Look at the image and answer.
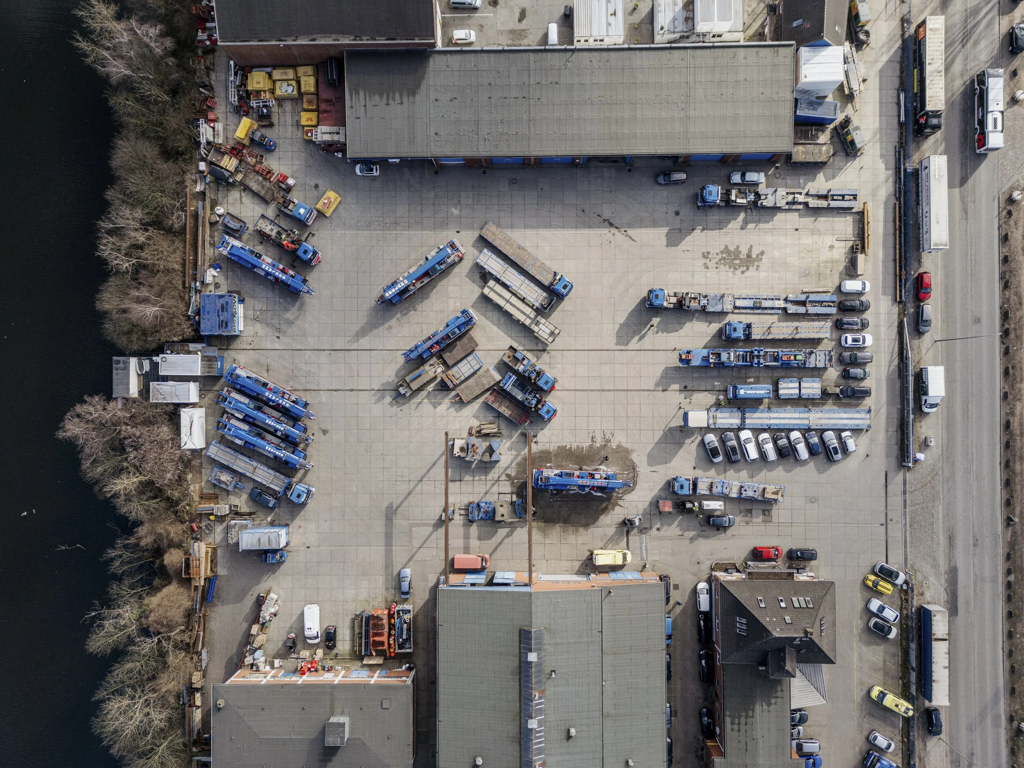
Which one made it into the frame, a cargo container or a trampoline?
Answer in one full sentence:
The image shows a cargo container.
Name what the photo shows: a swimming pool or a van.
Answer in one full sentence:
I can see a van in this picture.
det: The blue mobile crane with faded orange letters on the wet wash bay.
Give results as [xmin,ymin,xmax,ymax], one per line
[532,469,633,494]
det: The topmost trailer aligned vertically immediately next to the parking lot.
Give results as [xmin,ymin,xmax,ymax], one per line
[918,604,950,705]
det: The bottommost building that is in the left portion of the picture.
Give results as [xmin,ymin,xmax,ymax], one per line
[211,670,414,768]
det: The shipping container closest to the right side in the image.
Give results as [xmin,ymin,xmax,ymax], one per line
[795,99,839,125]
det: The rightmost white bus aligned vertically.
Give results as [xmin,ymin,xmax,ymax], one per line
[975,68,1004,153]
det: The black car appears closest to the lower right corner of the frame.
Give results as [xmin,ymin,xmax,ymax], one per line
[926,705,945,736]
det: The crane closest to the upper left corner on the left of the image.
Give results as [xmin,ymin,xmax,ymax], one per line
[216,232,315,295]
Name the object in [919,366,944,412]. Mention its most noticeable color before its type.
white vehicle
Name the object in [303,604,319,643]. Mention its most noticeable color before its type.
white vehicle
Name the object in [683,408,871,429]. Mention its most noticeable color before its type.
white trailer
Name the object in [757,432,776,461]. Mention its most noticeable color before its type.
white car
